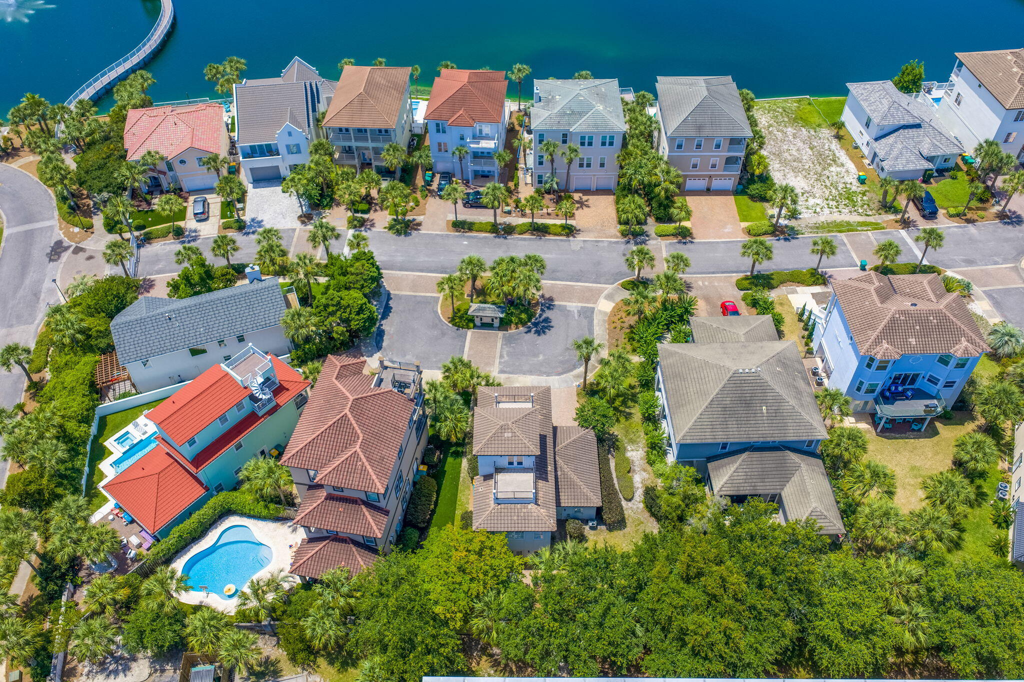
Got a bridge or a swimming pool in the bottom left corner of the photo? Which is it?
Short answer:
swimming pool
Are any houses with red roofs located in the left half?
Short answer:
Yes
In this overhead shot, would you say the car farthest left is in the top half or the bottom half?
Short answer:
top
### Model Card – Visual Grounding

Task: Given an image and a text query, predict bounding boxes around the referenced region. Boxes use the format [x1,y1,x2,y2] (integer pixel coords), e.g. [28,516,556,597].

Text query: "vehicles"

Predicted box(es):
[378,170,395,195]
[912,190,942,221]
[462,190,500,210]
[435,171,453,198]
[188,197,212,221]
[720,297,745,315]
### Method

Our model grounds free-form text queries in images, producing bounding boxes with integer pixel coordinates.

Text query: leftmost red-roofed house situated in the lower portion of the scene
[100,335,313,538]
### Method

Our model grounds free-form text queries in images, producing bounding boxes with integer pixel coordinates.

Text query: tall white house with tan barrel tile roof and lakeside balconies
[939,50,1024,164]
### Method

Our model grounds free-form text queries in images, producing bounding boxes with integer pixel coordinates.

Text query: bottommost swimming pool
[175,520,277,604]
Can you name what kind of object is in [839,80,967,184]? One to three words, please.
house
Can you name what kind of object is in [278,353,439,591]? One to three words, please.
house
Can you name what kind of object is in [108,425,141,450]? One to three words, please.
swimming pool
